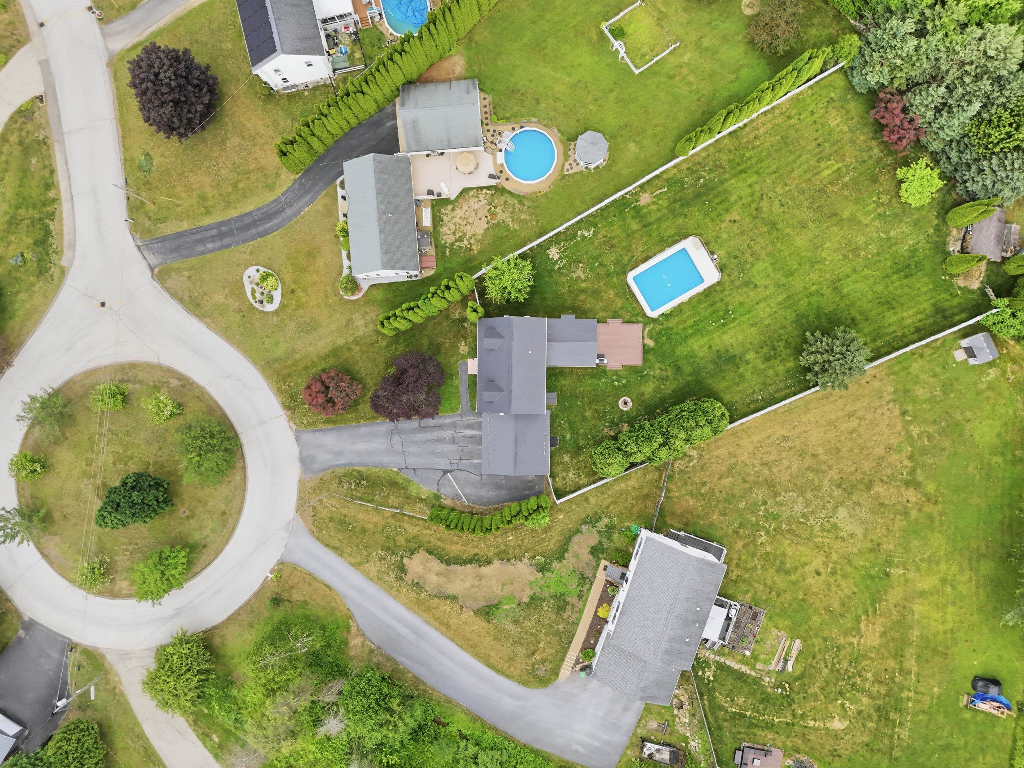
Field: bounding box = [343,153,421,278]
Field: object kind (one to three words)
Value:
house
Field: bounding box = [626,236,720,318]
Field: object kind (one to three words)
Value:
swimming pool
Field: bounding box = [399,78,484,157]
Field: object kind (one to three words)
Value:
building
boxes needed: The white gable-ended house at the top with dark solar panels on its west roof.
[237,0,333,92]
